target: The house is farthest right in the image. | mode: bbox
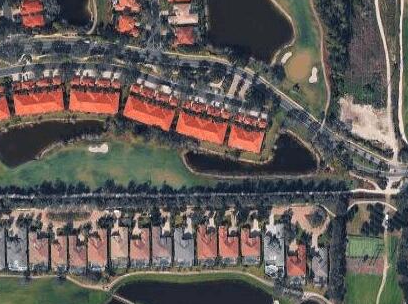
[312,247,329,284]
